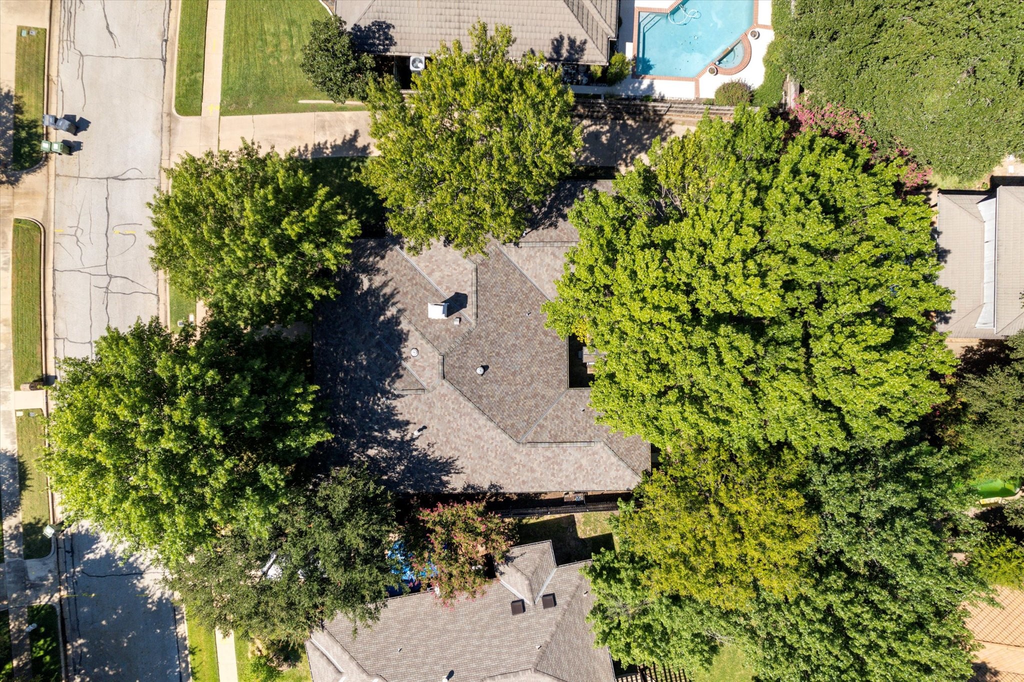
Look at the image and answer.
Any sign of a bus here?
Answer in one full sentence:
No, there appears to be no bus in this shot.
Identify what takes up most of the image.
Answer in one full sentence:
The scene is dominated by trees.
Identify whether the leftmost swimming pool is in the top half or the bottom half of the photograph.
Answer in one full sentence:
The leftmost swimming pool is in the top half of the image.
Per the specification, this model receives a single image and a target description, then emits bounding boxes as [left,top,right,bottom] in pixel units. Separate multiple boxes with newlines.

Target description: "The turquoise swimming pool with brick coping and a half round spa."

[632,0,773,98]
